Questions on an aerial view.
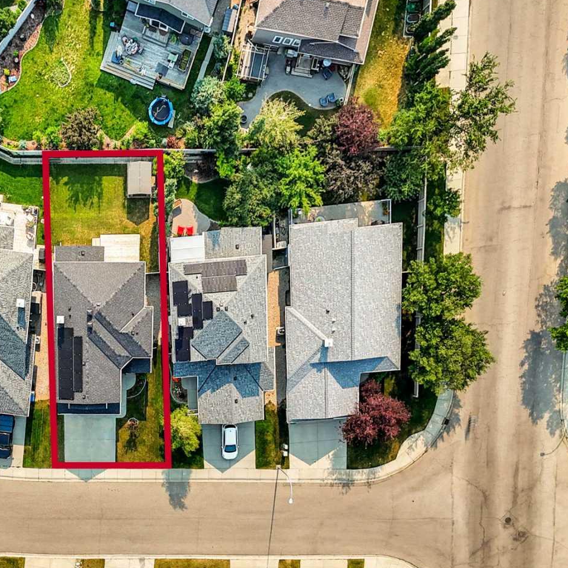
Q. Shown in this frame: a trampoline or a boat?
trampoline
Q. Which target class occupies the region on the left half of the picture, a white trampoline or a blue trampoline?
blue trampoline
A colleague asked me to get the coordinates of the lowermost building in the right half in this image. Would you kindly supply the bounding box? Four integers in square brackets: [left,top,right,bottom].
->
[282,218,403,424]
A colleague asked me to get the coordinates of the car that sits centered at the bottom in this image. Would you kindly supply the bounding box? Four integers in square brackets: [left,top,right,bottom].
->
[220,422,240,461]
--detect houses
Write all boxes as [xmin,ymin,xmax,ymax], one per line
[251,0,378,66]
[167,226,276,424]
[0,223,36,417]
[282,218,403,424]
[122,0,218,36]
[53,245,154,416]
